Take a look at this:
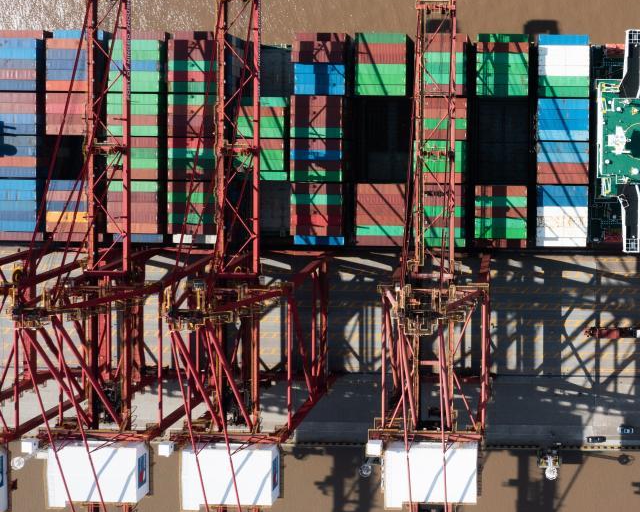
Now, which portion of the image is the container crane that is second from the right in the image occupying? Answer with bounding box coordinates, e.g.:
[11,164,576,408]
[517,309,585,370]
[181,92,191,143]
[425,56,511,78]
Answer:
[156,0,345,512]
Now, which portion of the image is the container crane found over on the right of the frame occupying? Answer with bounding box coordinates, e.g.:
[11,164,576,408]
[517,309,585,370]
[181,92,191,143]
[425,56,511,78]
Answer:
[358,0,498,512]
